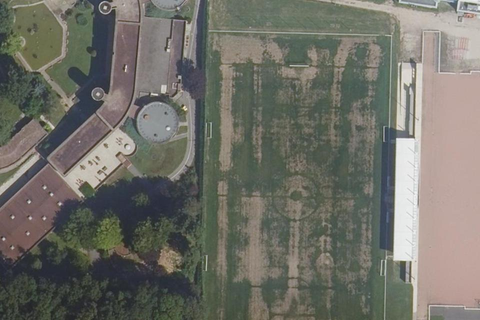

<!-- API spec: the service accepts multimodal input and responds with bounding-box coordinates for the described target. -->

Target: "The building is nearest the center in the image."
[136,100,179,144]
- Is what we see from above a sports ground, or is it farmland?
sports ground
